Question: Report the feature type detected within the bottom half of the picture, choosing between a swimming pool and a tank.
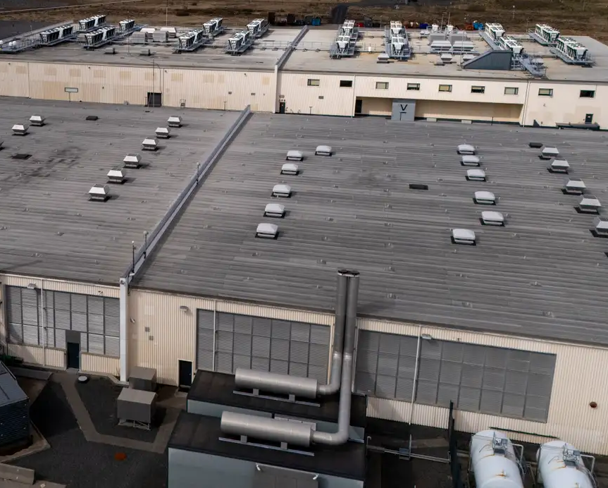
tank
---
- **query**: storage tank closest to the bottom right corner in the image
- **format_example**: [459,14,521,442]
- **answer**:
[530,448,602,488]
